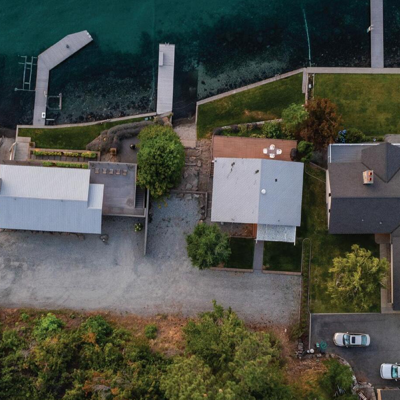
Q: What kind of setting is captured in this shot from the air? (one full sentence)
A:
The picture captures a residential area.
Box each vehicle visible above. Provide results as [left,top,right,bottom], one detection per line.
[380,363,400,381]
[332,331,370,348]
